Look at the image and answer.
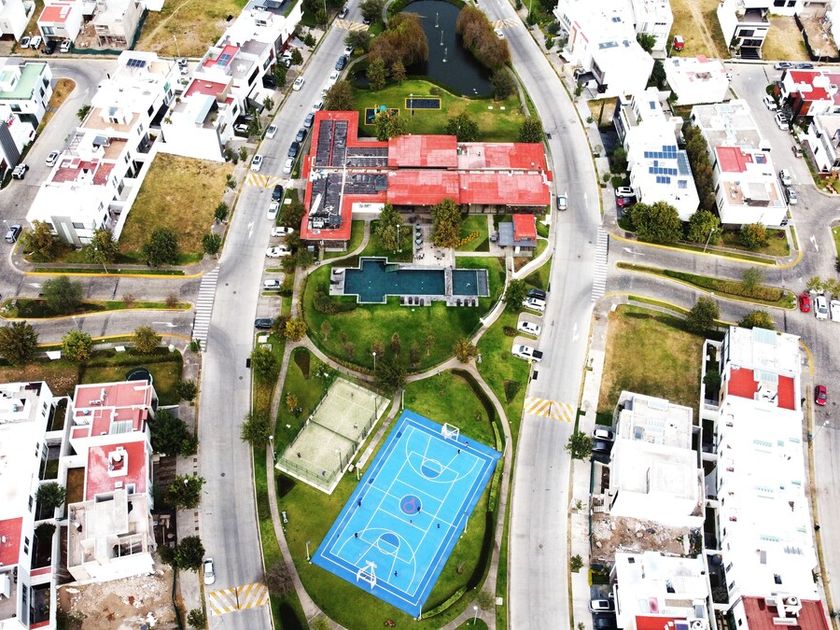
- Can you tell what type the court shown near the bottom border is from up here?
basketball court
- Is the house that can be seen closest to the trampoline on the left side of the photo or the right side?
left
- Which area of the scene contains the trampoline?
left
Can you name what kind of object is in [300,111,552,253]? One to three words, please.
building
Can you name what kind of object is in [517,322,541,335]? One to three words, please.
vehicle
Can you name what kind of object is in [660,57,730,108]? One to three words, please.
house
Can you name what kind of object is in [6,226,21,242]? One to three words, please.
car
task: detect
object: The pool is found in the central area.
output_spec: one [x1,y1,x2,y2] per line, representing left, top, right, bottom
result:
[330,256,490,306]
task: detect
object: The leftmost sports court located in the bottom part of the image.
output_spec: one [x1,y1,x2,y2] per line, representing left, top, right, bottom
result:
[274,368,391,495]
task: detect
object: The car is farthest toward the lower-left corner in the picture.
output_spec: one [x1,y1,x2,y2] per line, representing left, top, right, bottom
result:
[202,557,216,587]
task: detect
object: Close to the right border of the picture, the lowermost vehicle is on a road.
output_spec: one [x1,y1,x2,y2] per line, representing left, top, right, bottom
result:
[815,386,828,407]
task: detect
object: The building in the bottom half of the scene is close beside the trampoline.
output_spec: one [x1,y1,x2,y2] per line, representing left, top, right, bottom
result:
[70,381,161,456]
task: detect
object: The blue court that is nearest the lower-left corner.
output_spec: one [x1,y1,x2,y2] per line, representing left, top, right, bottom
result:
[311,409,496,619]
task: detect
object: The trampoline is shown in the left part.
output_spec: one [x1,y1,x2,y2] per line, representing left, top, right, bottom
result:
[121,358,149,381]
